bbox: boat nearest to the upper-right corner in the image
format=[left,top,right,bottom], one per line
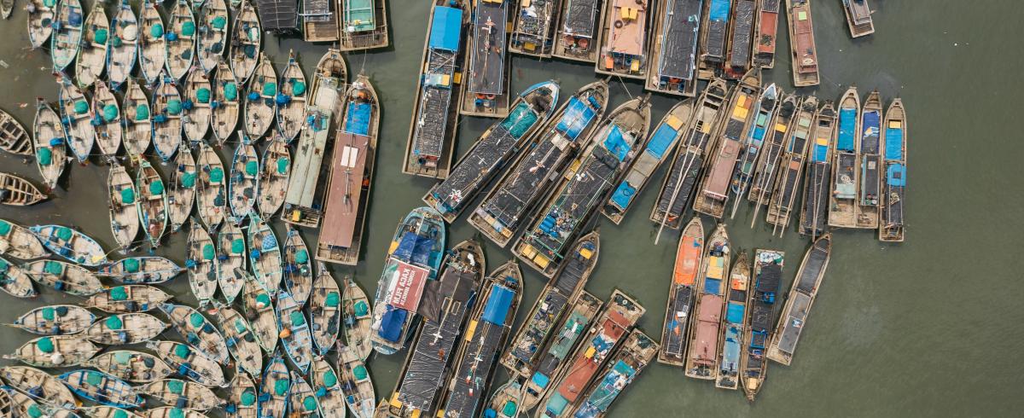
[843,0,876,38]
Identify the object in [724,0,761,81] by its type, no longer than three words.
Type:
boat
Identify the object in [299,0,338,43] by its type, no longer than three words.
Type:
boat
